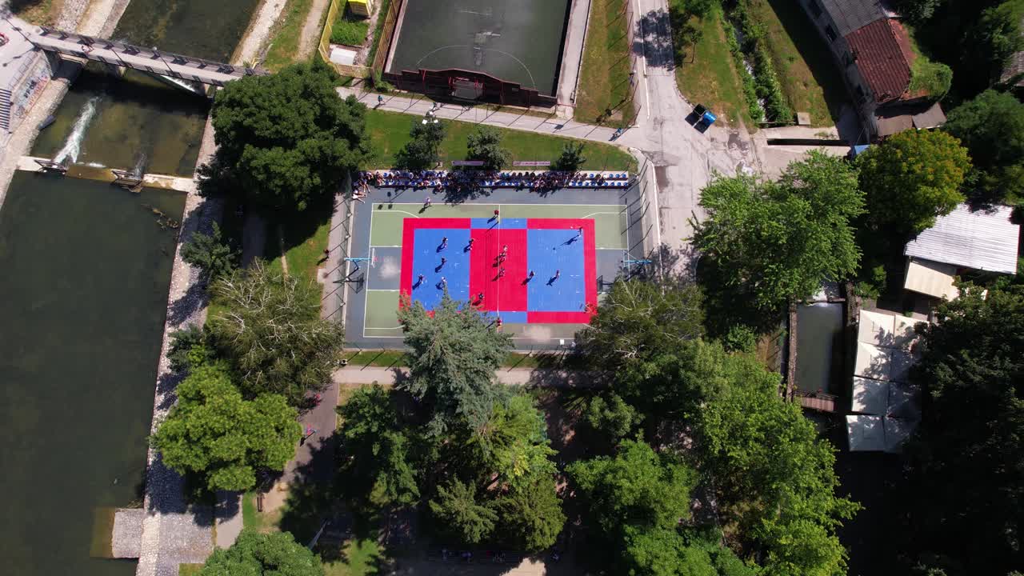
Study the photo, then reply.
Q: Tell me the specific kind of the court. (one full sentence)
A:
From above, the court can be identified as a basketball court.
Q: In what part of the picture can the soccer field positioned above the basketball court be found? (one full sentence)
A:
The soccer field positioned above the basketball court sits in the top section of the image.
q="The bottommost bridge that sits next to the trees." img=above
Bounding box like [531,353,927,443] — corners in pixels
[789,395,840,412]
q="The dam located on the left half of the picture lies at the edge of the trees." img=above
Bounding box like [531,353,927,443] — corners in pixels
[14,155,194,192]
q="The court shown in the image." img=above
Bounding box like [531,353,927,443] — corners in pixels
[345,184,646,353]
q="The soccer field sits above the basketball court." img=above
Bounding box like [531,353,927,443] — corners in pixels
[383,0,591,120]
